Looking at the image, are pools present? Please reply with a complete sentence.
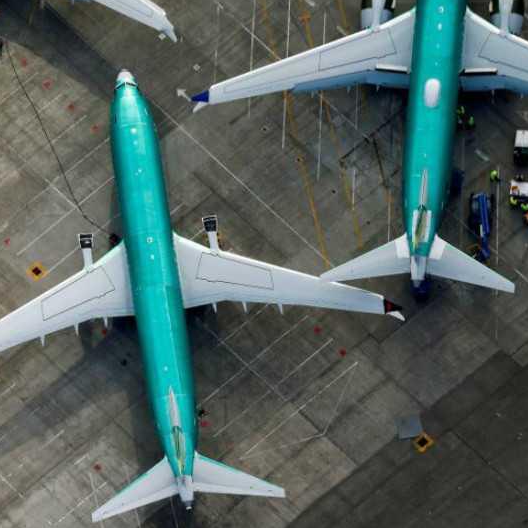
No, I can see no pool in this picture.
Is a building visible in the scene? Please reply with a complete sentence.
No, the scene contains no building.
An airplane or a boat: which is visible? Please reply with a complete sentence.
There is an airplane in the scene.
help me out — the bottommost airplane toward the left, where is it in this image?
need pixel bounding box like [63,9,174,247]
[0,68,404,523]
